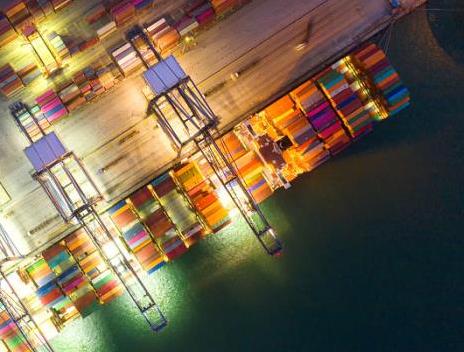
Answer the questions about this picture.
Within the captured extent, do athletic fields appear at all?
No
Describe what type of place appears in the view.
port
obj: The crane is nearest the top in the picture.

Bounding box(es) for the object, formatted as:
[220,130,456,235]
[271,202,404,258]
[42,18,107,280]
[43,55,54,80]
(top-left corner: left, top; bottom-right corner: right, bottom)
[21,25,65,80]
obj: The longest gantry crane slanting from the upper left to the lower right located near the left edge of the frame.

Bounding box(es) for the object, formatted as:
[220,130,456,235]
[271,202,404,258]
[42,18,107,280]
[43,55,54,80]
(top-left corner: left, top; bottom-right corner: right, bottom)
[10,104,167,332]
